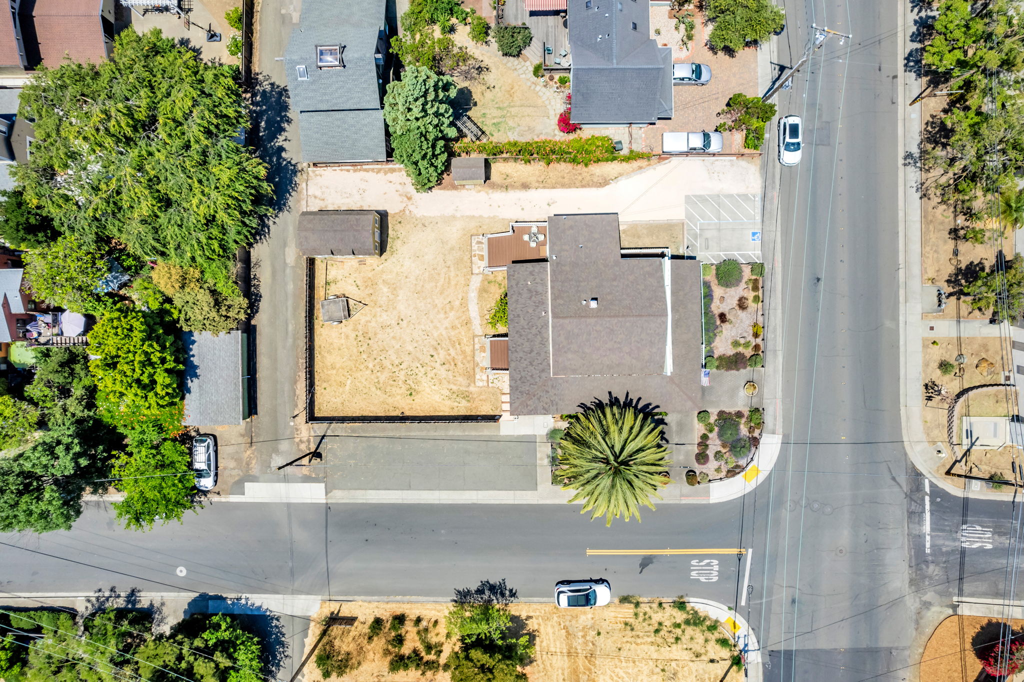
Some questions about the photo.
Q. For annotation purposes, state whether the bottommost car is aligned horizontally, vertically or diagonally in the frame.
horizontally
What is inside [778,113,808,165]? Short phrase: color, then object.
white car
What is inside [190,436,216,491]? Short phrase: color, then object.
white car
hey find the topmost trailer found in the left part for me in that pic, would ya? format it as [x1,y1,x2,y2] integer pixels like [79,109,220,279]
[320,293,366,324]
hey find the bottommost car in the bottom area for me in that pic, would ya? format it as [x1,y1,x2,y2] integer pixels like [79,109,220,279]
[555,579,611,608]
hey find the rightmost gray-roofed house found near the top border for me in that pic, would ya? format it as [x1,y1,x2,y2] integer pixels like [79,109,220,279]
[567,0,673,129]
